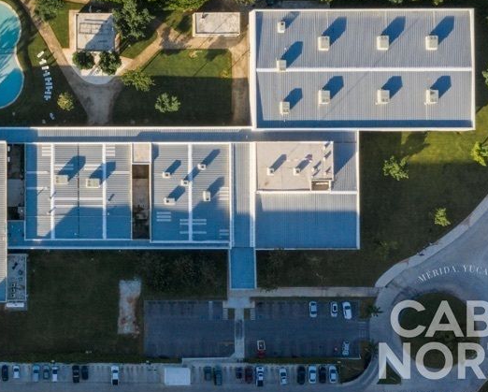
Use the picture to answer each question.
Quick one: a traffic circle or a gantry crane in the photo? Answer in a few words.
traffic circle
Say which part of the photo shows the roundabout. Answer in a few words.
bottom right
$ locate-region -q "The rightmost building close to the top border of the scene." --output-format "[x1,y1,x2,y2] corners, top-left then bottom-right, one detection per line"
[245,8,475,132]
